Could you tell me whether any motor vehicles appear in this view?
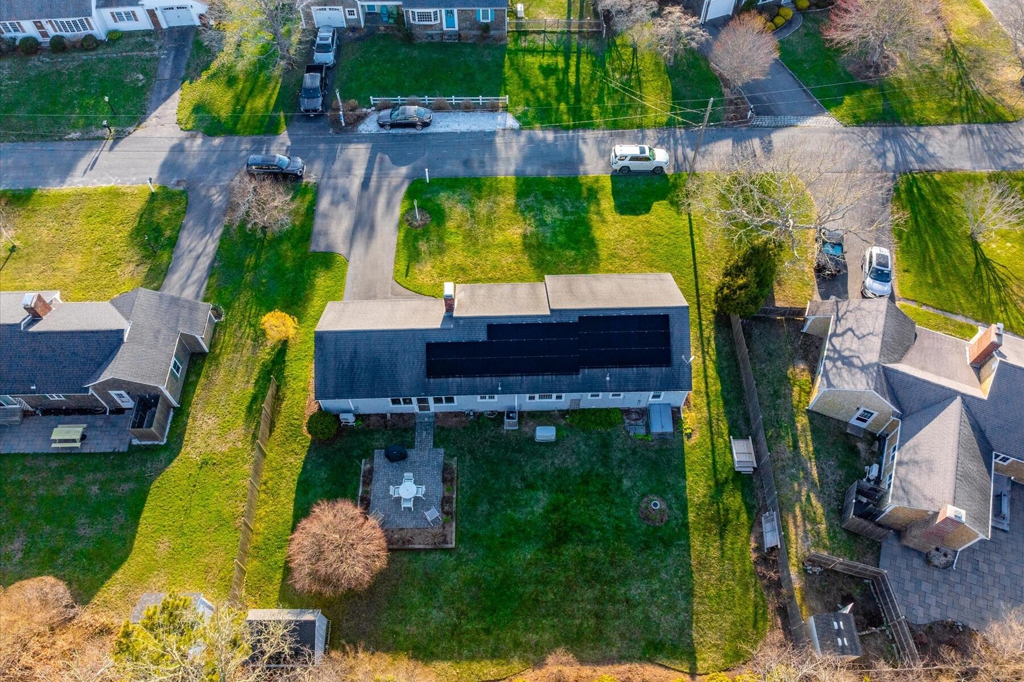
Yes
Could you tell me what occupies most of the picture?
grass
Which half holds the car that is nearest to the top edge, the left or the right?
left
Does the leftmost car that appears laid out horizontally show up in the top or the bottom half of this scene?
top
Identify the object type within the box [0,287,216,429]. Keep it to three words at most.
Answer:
house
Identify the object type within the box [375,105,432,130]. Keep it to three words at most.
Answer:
car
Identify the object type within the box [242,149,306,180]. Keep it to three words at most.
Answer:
car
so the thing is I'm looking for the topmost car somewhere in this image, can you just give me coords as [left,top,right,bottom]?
[311,27,339,67]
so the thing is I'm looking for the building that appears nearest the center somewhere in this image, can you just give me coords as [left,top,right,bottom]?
[314,273,694,420]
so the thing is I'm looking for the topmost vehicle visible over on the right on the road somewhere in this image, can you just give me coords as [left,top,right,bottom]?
[610,144,670,174]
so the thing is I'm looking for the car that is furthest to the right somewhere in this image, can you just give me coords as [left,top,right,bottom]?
[856,242,902,297]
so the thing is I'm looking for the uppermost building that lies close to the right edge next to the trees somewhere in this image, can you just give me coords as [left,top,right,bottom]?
[801,297,1024,562]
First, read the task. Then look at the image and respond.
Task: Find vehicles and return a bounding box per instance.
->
[610,144,670,174]
[311,27,339,67]
[856,242,902,297]
[297,67,330,113]
[375,105,432,130]
[242,149,306,180]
